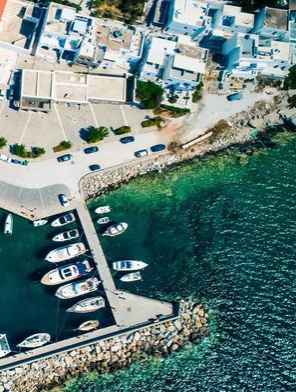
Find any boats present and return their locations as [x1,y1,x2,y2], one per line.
[73,321,99,331]
[50,213,77,227]
[52,229,80,242]
[103,222,128,236]
[95,206,111,214]
[41,260,91,284]
[32,220,48,226]
[3,214,12,236]
[62,296,110,336]
[96,217,110,224]
[0,336,10,355]
[111,260,148,276]
[16,334,56,351]
[56,279,103,298]
[44,241,89,262]
[117,273,142,288]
